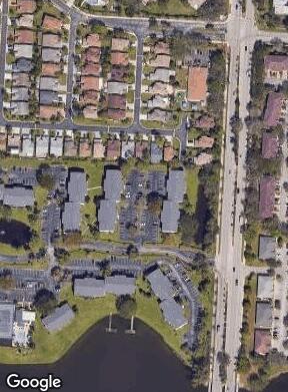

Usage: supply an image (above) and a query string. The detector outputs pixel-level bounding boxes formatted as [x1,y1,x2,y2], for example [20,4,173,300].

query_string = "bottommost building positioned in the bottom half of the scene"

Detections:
[255,328,269,356]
